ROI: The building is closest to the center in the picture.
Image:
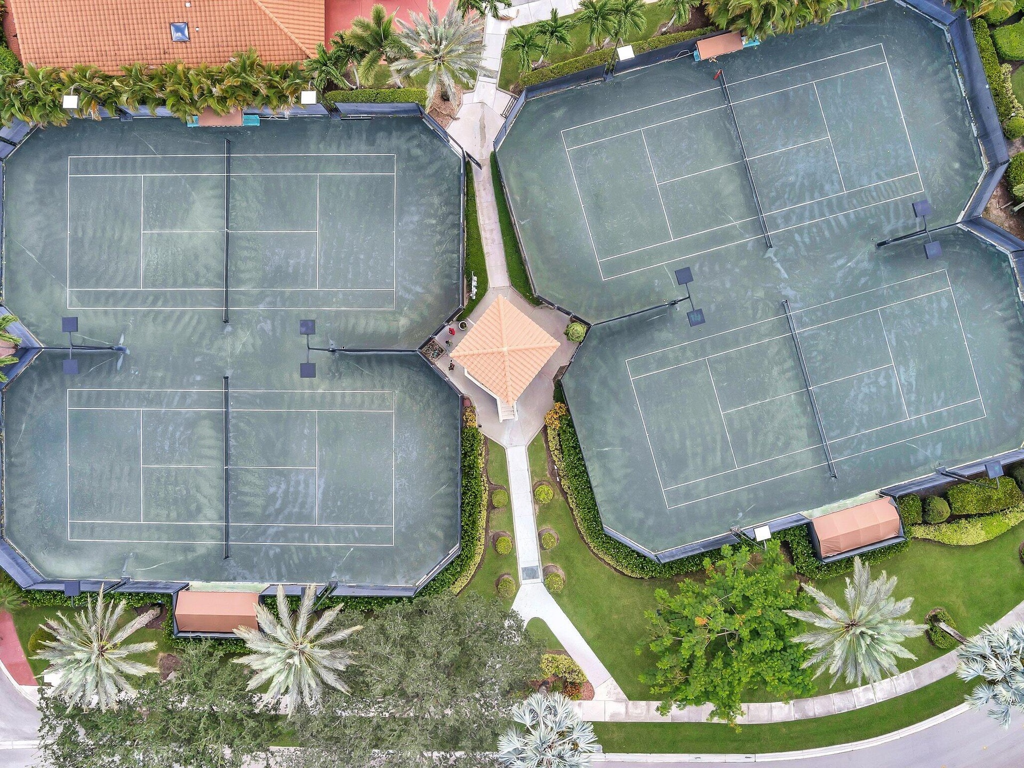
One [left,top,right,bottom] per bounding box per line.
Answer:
[450,294,560,423]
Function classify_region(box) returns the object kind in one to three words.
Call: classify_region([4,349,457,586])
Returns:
tennis court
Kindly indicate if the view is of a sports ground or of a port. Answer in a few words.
sports ground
